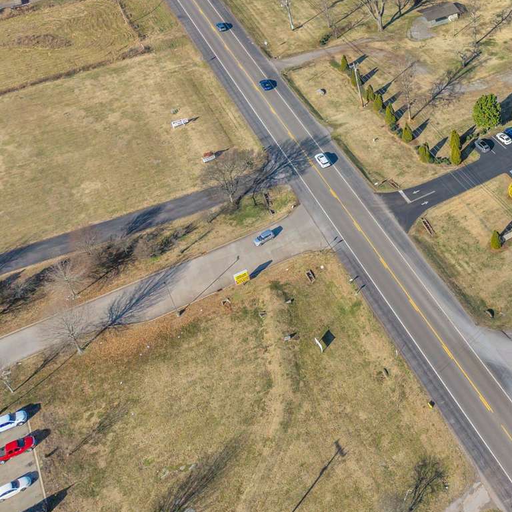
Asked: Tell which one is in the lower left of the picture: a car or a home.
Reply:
car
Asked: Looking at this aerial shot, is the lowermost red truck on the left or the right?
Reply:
left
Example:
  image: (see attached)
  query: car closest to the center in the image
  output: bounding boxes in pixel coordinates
[249,224,277,245]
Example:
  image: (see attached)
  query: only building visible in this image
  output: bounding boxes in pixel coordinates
[414,1,463,27]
